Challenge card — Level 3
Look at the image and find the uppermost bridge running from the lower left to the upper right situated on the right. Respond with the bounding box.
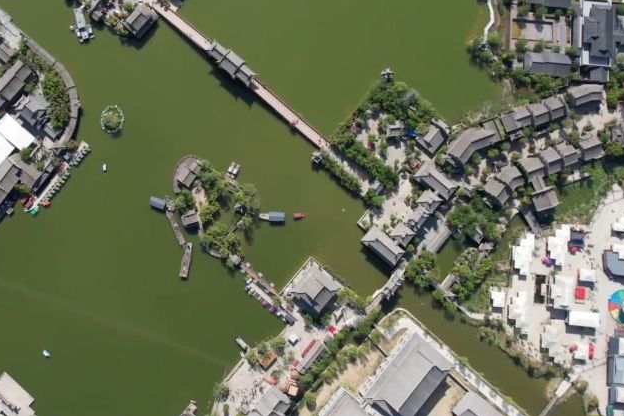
[366,256,413,313]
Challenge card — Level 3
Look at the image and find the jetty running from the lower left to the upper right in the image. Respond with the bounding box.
[29,140,86,210]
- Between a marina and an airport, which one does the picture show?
marina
